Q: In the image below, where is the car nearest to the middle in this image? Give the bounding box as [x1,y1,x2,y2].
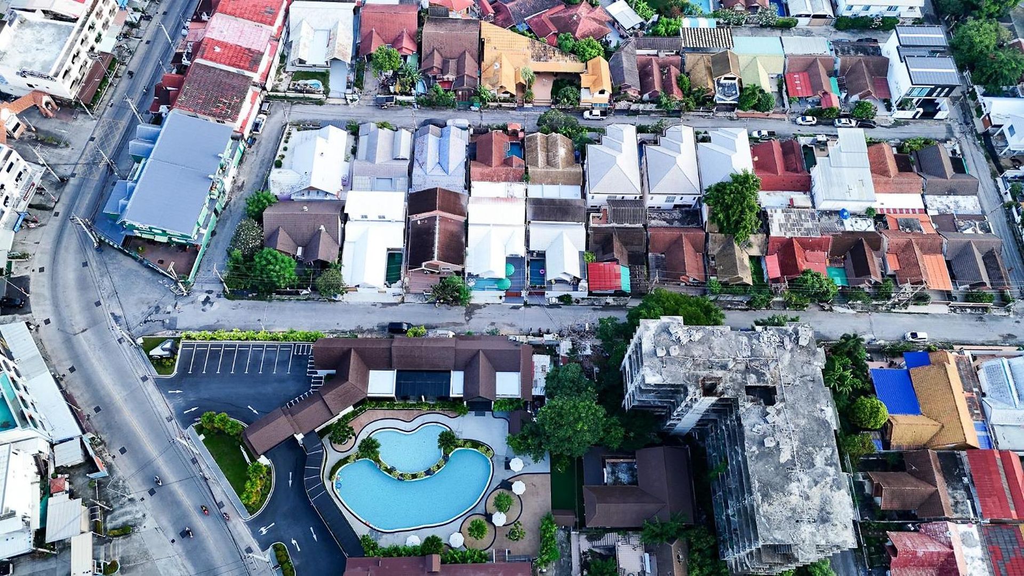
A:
[386,321,413,334]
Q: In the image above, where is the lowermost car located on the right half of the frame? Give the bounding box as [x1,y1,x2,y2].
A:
[906,330,930,342]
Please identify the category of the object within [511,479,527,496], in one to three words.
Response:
umbrella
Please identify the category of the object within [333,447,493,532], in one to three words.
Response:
swimming pool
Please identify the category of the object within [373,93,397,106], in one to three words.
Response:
vehicle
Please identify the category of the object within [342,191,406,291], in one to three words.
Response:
house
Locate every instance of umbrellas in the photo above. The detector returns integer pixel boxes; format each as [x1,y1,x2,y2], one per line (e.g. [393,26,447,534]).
[491,511,507,528]
[497,277,512,292]
[506,263,517,277]
[404,532,421,550]
[449,532,465,549]
[511,479,527,496]
[508,457,525,473]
